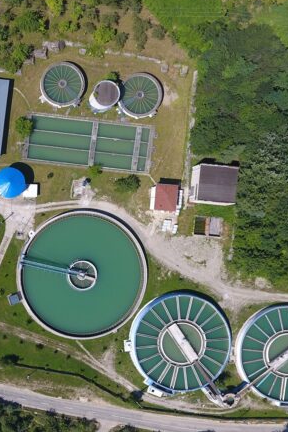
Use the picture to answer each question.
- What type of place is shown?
industrial area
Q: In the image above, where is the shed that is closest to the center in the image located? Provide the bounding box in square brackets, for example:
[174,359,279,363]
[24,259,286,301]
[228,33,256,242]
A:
[152,184,178,212]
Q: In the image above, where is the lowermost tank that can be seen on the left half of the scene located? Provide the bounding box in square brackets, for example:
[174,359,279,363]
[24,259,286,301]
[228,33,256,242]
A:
[17,208,148,340]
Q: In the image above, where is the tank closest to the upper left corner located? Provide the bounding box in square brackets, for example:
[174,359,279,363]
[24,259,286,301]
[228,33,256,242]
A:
[36,61,87,113]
